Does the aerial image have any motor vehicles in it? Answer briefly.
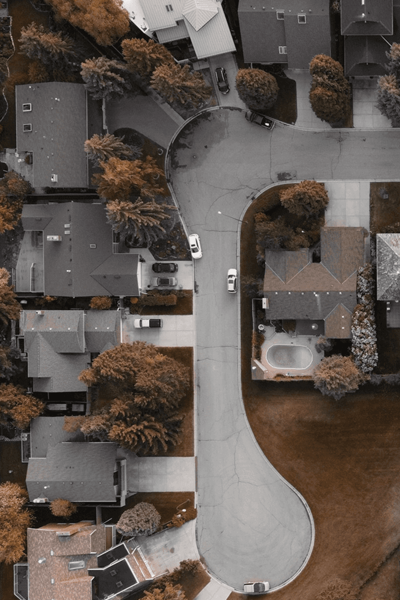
Yes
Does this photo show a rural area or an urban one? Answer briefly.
urban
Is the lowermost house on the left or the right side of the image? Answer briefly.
left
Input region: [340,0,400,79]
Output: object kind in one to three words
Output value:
house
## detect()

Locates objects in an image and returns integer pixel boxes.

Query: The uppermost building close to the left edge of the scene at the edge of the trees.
[15,81,96,192]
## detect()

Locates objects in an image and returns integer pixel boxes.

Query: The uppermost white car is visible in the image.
[188,233,205,260]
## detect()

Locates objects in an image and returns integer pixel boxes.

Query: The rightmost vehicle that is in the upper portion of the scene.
[244,108,277,132]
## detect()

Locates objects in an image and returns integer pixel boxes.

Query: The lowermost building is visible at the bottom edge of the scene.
[28,521,159,600]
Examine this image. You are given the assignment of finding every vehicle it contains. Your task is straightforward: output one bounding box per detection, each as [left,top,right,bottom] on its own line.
[225,268,240,294]
[152,275,179,288]
[214,67,231,95]
[188,233,205,260]
[244,108,277,132]
[135,317,165,329]
[243,582,271,594]
[152,261,179,273]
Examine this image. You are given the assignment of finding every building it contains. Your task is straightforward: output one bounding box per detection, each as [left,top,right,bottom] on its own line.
[258,225,365,339]
[253,360,269,379]
[14,310,128,392]
[238,0,332,73]
[26,417,134,504]
[28,521,159,600]
[16,201,146,296]
[376,233,400,301]
[340,0,400,79]
[15,81,96,192]
[121,0,242,63]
